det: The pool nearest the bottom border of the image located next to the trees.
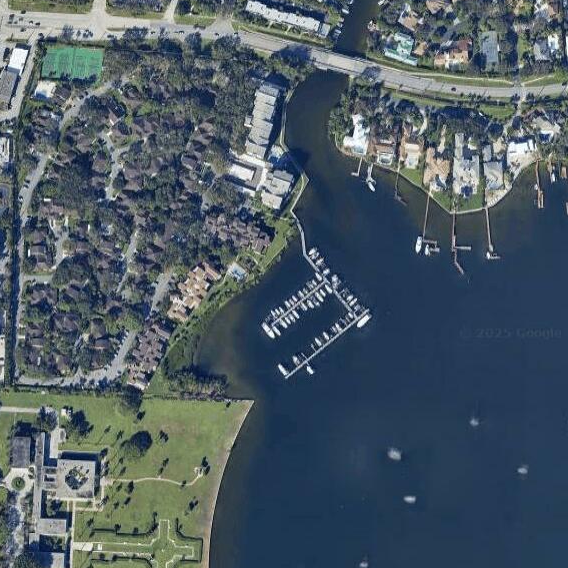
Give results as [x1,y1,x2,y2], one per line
[225,260,251,284]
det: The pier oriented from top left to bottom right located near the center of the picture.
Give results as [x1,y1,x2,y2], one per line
[295,217,360,318]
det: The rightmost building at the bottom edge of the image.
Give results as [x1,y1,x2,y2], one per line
[29,433,96,568]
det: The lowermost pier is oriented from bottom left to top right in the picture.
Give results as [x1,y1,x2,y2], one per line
[284,309,370,380]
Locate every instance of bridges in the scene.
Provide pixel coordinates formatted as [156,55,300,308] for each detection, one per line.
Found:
[306,43,372,81]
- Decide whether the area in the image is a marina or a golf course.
marina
